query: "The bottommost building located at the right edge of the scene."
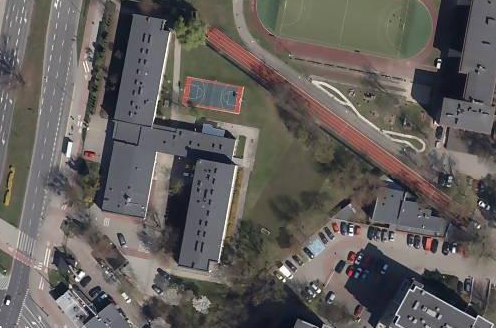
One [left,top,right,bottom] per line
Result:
[394,286,495,328]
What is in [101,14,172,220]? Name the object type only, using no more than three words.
building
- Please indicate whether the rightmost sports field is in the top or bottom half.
top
